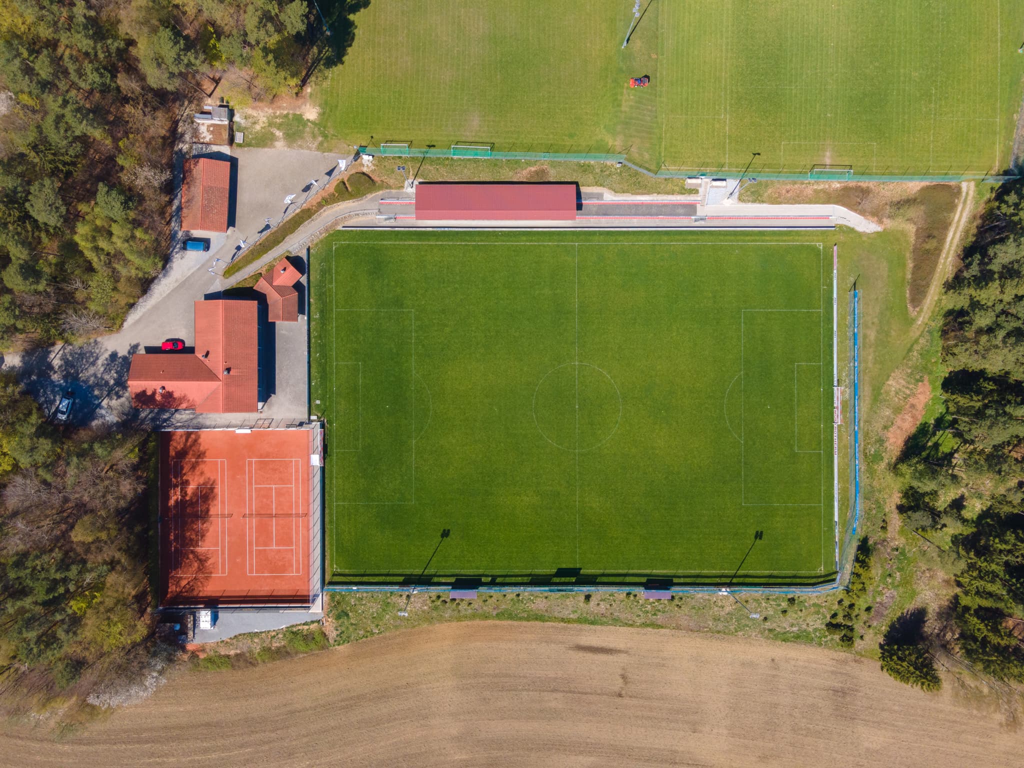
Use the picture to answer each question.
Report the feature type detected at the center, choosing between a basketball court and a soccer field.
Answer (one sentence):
You can see a soccer field at the center.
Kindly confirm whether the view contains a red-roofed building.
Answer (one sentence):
Yes, there is a red-roofed building in the image.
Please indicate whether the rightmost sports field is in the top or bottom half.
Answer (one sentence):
Seen from above, the rightmost sports field lies in the top half of the view.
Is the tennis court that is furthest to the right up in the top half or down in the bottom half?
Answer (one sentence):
The tennis court that is furthest to the right is in the bottom half of the image.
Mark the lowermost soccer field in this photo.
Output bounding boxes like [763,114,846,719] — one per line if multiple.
[310,230,834,585]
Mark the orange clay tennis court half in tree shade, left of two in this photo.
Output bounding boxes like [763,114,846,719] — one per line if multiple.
[159,431,237,607]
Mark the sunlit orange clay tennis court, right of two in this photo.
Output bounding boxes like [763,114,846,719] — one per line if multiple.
[237,431,313,607]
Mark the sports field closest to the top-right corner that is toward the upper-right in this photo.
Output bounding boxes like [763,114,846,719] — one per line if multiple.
[663,0,1024,175]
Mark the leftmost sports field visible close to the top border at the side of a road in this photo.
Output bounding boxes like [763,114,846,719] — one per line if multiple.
[326,0,623,154]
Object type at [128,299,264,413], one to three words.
building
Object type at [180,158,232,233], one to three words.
building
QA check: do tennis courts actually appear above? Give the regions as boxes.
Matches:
[159,431,237,607]
[237,431,313,607]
